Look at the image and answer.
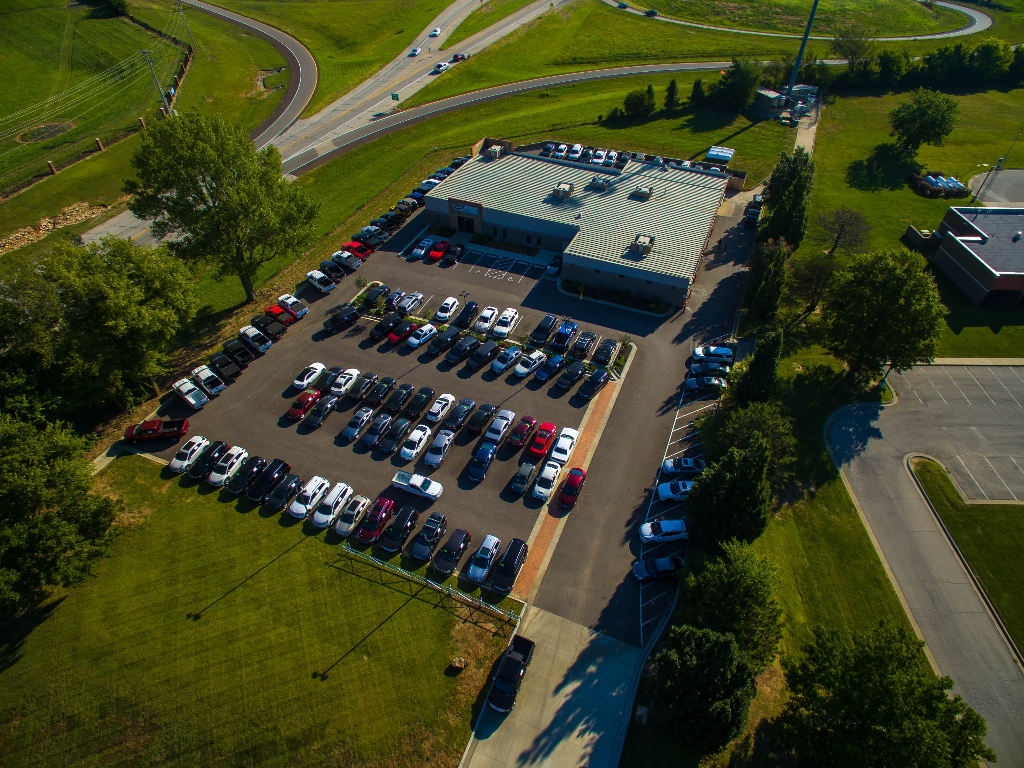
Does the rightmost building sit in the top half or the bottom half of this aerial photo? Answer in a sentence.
Seen from above, the rightmost building lies in the top half of the view.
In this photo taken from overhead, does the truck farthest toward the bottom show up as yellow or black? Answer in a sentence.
In this view, the truck farthest toward the bottom is black.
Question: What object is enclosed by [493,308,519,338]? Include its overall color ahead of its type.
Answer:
white car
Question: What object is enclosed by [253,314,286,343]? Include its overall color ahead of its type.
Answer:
black truck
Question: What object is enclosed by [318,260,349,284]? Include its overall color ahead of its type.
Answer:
black truck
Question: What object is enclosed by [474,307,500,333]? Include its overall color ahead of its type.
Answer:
white car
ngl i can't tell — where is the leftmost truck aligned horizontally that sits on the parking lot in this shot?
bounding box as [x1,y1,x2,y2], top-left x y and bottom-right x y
[130,421,188,445]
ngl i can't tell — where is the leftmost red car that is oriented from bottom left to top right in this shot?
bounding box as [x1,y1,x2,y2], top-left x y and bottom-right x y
[287,388,322,423]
